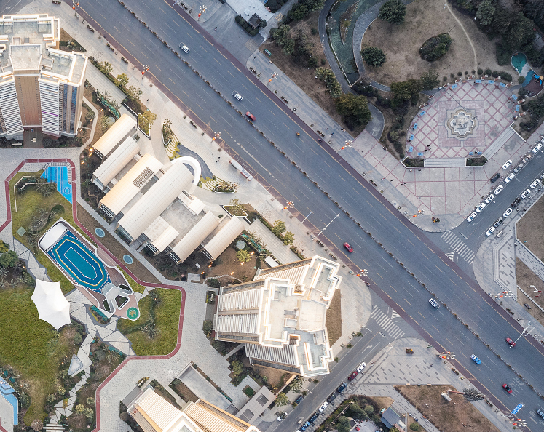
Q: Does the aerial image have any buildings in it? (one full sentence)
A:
Yes, a building appears in the view.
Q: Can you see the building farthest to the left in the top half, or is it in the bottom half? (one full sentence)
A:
The building farthest to the left sits in the top half of the picture.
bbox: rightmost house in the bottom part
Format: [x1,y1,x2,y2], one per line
[379,406,406,429]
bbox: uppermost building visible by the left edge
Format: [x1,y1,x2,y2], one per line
[0,13,89,139]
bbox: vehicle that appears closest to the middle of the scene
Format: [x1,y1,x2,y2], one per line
[227,155,256,182]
